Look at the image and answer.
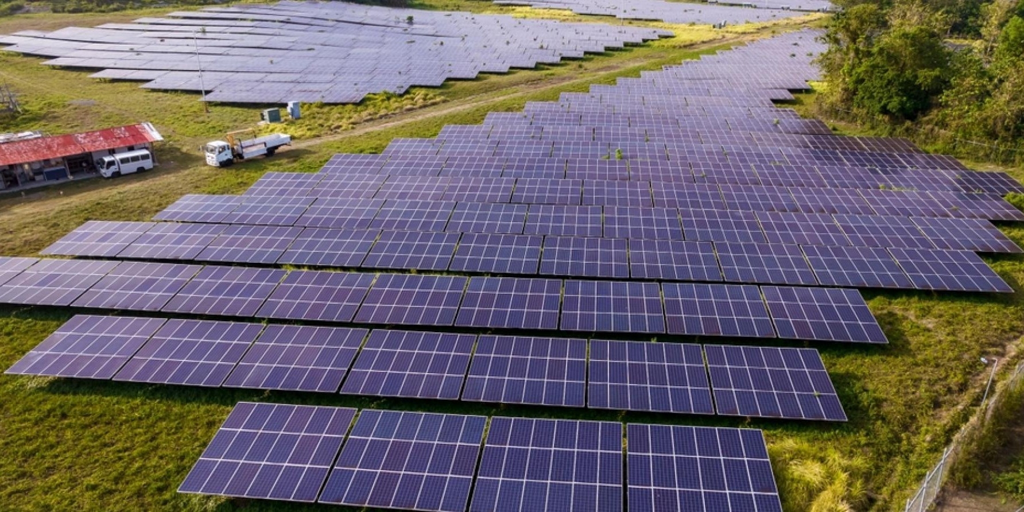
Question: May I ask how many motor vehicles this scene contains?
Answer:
2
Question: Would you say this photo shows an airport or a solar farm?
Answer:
solar farm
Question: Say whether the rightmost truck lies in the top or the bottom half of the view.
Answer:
top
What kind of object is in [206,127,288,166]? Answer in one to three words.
truck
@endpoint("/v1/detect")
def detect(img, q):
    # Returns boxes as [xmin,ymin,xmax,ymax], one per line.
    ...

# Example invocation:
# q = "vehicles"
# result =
[99,145,154,176]
[206,127,288,166]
